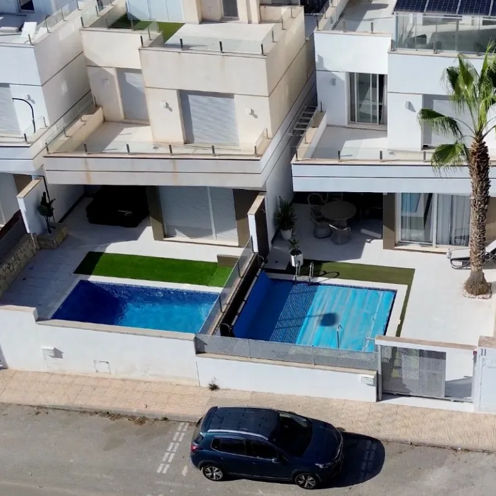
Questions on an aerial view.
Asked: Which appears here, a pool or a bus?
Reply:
pool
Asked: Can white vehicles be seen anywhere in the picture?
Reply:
No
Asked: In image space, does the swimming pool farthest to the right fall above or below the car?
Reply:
above it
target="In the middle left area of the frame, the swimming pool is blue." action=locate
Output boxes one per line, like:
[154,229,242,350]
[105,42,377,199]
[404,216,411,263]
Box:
[42,272,219,328]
